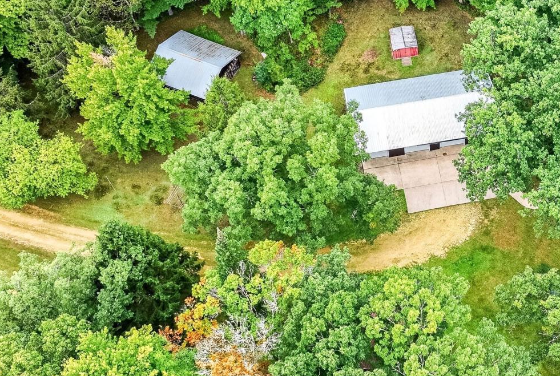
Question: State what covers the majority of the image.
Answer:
trees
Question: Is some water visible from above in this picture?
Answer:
No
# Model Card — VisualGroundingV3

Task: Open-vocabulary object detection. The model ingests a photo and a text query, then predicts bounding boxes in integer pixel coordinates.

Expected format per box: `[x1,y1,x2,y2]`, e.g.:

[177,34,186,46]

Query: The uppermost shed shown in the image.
[388,22,419,59]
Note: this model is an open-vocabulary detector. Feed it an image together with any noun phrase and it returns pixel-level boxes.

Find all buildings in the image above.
[151,29,246,104]
[343,66,503,161]
[388,22,419,59]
